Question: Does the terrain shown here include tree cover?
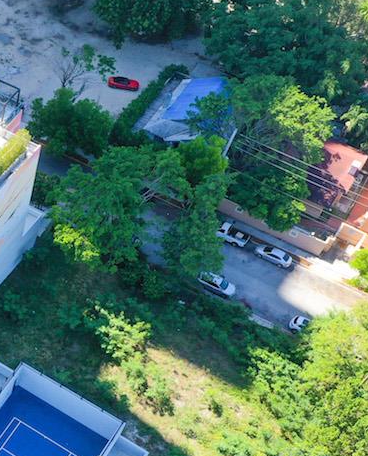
Yes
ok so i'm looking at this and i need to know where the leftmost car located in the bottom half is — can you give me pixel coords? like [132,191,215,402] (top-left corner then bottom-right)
[199,263,241,293]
